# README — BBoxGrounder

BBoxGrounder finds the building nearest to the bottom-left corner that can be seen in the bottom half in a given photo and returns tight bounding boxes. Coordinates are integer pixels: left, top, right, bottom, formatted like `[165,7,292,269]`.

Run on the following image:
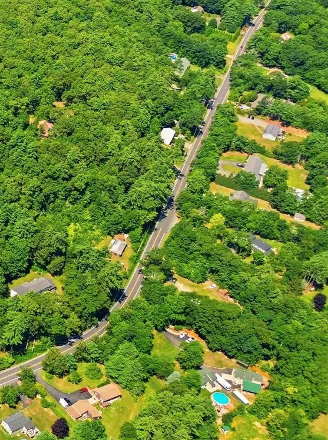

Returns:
[1,411,33,437]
